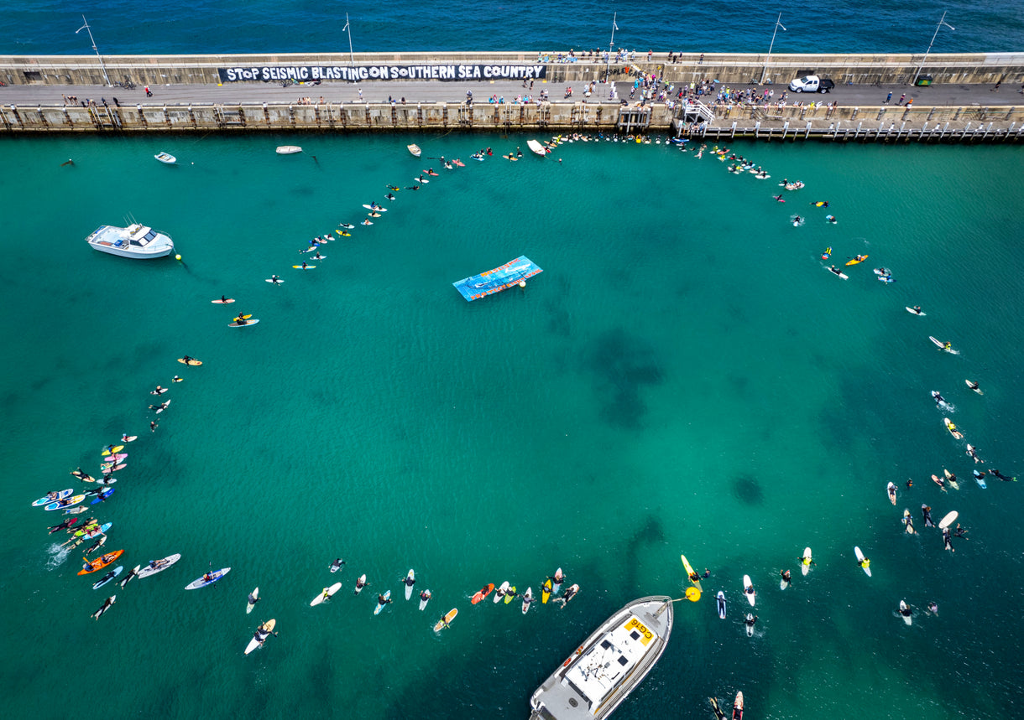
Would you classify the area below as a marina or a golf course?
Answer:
marina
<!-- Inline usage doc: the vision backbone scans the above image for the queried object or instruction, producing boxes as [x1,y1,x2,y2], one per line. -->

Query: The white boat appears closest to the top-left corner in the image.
[153,152,178,164]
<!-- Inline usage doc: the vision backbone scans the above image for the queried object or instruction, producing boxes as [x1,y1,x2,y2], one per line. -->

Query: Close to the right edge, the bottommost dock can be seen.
[672,118,1024,145]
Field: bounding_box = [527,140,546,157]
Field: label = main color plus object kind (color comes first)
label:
white boat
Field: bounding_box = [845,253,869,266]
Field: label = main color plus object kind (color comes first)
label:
yellow boat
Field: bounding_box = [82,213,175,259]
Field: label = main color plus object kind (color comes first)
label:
white boat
